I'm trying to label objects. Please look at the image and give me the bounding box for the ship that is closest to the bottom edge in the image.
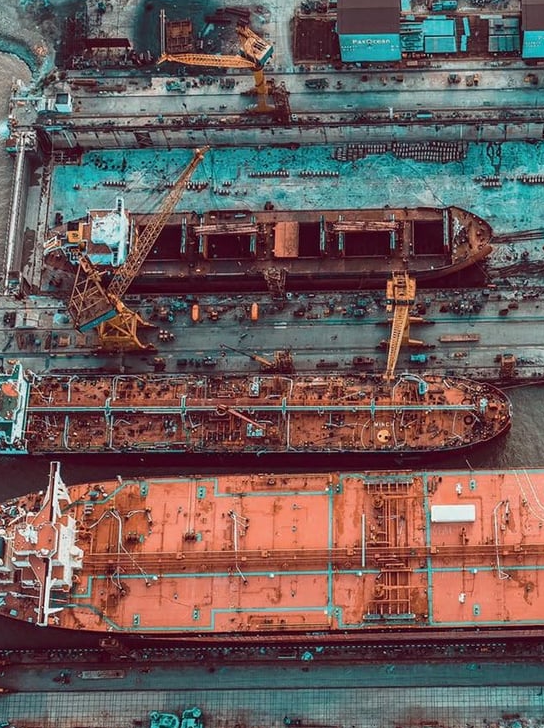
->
[0,460,544,648]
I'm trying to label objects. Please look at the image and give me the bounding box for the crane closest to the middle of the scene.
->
[225,339,295,371]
